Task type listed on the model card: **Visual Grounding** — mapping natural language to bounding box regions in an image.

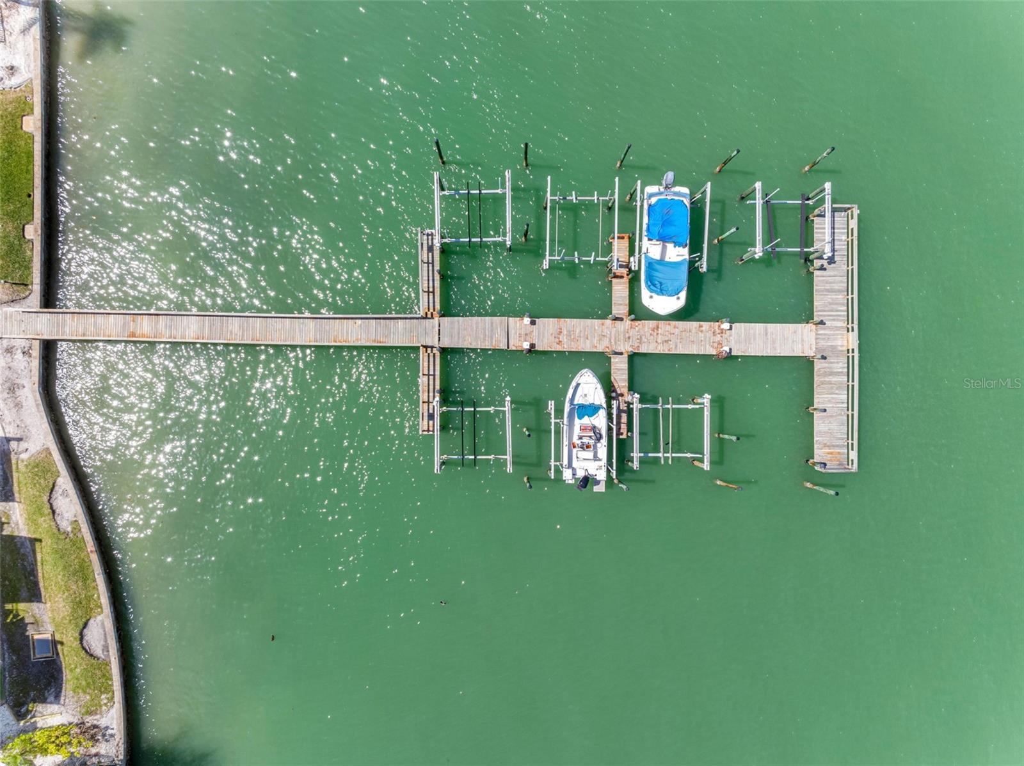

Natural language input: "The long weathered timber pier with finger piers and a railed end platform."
[0,205,858,472]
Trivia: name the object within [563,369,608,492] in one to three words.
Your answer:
boat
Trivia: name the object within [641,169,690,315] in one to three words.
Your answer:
boat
